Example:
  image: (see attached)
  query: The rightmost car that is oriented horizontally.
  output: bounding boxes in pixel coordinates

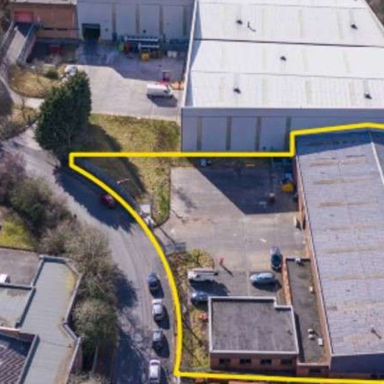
[247,270,278,284]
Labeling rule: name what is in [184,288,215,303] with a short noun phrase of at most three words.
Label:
car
